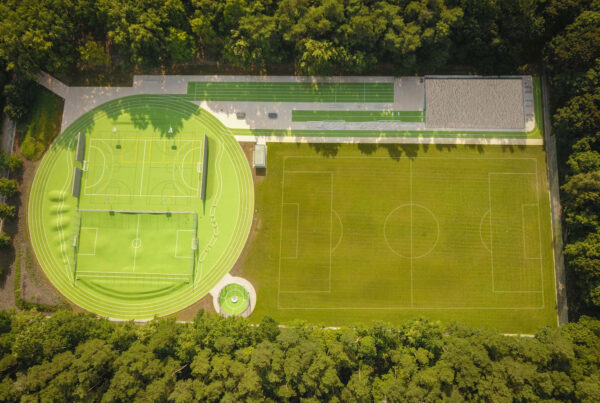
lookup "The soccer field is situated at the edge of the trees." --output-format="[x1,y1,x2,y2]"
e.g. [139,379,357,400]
[277,152,547,313]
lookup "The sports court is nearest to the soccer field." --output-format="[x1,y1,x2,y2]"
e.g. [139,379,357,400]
[220,284,250,313]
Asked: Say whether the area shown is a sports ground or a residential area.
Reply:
sports ground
